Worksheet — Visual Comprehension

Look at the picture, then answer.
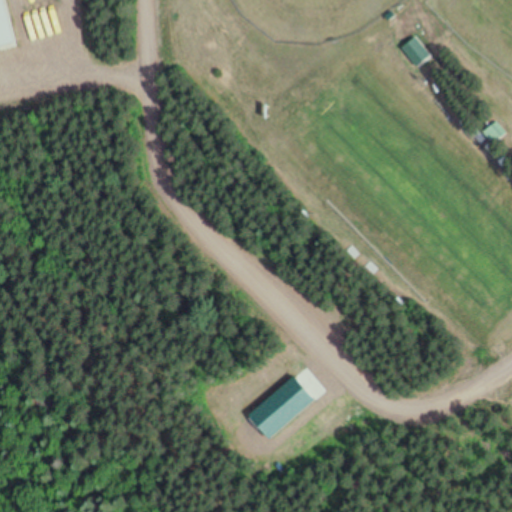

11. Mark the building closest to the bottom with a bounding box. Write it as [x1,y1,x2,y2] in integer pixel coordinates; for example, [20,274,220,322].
[249,377,313,438]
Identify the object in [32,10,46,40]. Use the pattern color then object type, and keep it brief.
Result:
white vehicle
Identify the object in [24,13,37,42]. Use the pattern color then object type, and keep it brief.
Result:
white vehicle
